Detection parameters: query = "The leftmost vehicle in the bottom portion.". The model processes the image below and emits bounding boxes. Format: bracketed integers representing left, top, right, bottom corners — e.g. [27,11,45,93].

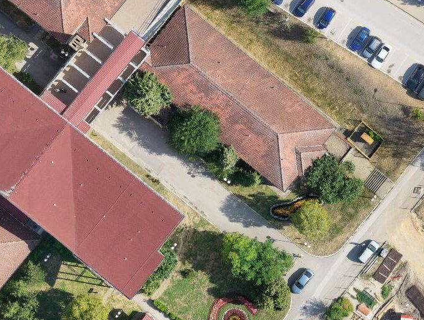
[292,267,312,294]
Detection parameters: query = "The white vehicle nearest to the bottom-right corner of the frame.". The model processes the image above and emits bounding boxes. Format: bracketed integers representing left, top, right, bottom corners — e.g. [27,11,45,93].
[359,239,380,265]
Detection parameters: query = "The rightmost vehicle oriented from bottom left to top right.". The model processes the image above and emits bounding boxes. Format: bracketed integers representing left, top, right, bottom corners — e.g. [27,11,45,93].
[402,63,424,91]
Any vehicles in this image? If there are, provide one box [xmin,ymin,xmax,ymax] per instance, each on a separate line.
[359,239,380,265]
[292,267,312,294]
[402,63,424,91]
[369,44,392,69]
[293,0,312,18]
[271,0,284,6]
[348,26,370,51]
[359,35,382,60]
[318,6,336,29]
